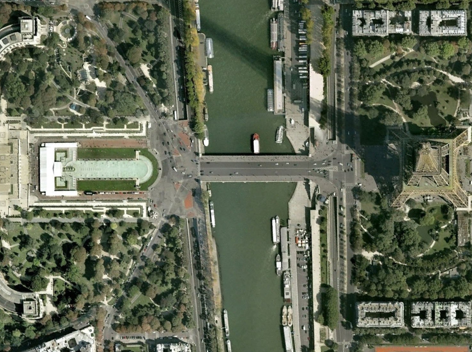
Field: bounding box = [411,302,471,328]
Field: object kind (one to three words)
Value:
building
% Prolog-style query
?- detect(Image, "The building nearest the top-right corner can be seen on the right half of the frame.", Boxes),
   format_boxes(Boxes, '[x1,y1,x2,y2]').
[418,10,467,37]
